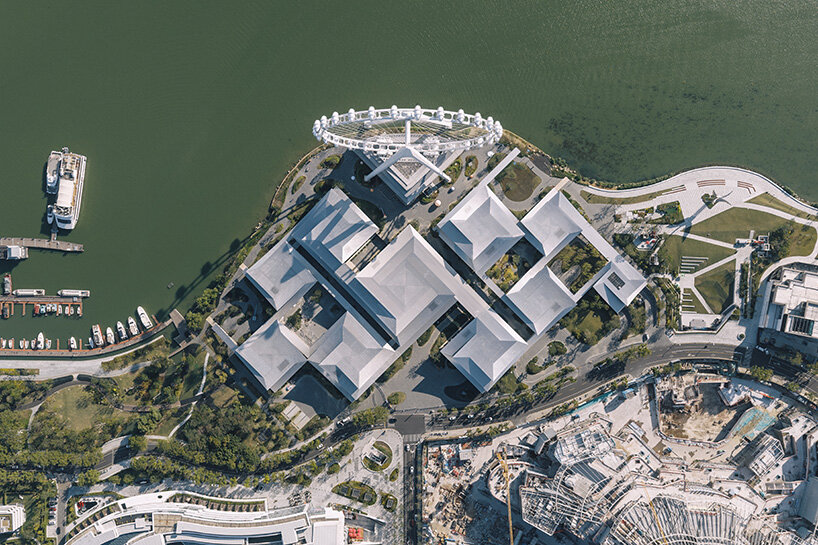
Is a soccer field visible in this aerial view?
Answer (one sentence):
No, the photo shows no soccer field.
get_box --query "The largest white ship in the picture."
[53,149,85,228]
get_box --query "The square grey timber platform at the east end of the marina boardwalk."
[169,309,189,346]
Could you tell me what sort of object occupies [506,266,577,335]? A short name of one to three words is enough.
building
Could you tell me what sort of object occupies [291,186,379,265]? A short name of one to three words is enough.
building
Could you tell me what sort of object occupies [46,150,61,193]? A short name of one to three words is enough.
boat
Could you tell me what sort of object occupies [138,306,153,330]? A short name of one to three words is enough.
boat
